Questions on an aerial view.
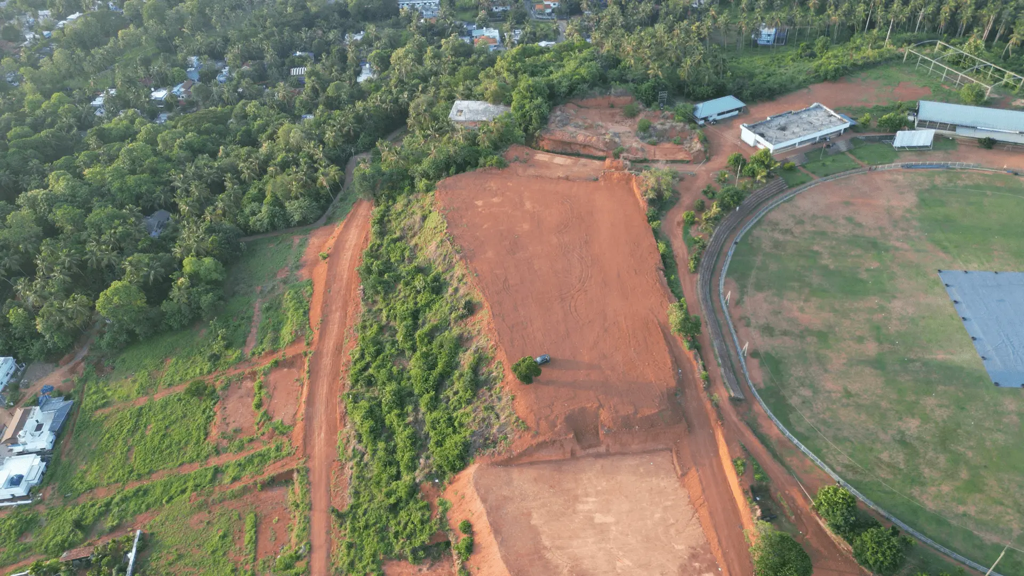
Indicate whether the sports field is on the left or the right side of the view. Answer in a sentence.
The sports field is on the right side of the image.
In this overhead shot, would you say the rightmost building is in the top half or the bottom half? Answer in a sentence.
It is in the top half that the rightmost building appears.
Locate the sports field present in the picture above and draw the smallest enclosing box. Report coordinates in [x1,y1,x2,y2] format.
[721,164,1024,576]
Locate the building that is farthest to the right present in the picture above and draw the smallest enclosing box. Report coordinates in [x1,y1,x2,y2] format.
[915,101,1024,144]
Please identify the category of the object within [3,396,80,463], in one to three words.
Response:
house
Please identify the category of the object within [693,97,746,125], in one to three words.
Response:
building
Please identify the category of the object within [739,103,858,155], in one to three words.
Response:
building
